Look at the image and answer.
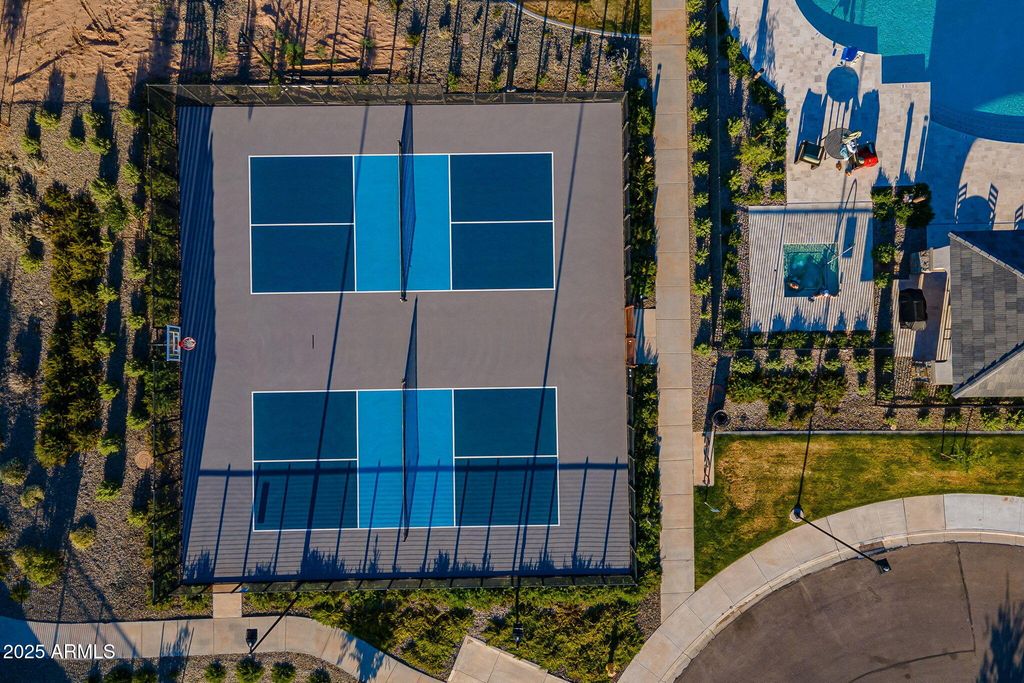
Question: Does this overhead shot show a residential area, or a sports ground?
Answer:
sports ground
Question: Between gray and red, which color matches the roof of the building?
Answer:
gray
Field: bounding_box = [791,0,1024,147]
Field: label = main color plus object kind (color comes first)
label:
blue swimming pool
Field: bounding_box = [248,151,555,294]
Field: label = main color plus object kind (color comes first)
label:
blue sports court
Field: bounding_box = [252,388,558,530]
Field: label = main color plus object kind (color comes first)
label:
blue sports court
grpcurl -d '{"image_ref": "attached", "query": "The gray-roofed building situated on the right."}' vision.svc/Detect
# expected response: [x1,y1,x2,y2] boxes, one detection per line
[948,232,1024,399]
